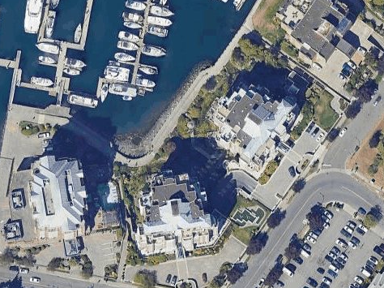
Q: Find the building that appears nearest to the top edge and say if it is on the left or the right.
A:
right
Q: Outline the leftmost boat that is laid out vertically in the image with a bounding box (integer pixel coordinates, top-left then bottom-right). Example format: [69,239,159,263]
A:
[23,0,41,37]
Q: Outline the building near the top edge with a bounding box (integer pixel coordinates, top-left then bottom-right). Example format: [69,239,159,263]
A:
[275,0,356,70]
